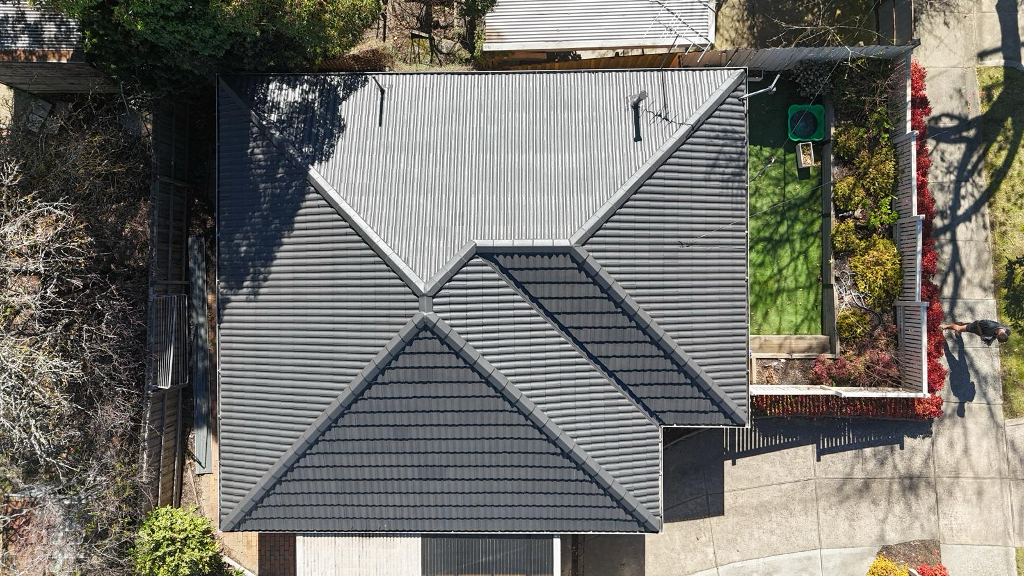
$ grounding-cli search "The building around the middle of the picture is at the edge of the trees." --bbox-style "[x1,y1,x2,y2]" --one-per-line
[216,64,753,536]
